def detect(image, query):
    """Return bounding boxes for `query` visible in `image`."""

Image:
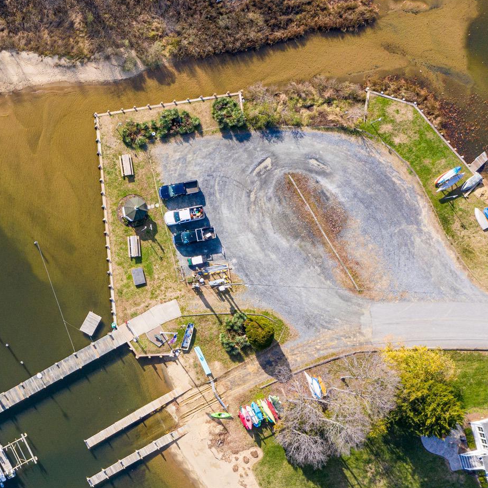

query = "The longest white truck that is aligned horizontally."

[162,206,206,227]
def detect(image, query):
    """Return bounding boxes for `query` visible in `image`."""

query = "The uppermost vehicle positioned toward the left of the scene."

[157,179,199,201]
